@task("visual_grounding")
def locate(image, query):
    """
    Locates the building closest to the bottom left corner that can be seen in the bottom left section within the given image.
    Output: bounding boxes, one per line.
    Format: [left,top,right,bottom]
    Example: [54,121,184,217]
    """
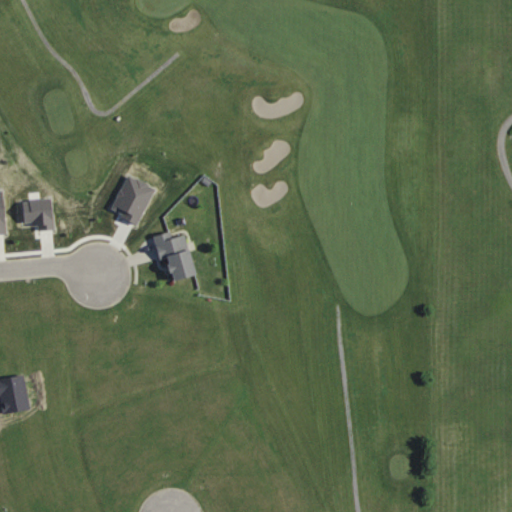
[0,376,29,415]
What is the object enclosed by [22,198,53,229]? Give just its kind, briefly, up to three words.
house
